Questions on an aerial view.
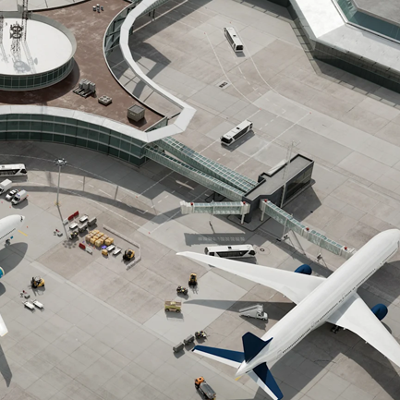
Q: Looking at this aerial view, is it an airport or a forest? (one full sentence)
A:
What you see here is an airport.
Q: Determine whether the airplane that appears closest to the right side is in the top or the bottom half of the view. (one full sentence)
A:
The airplane that appears closest to the right side is in the bottom half of the image.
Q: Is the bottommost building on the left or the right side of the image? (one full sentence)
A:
You can find the bottommost building on the right side of the picture.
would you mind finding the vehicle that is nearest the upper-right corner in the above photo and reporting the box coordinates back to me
[224,24,242,49]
